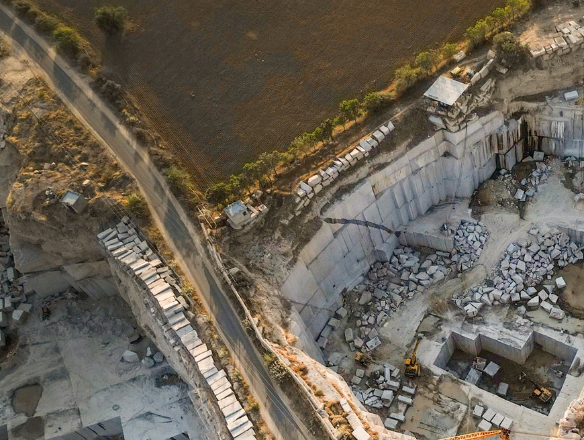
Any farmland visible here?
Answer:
Yes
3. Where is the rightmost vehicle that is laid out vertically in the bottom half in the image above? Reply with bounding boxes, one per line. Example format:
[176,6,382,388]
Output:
[403,338,425,380]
